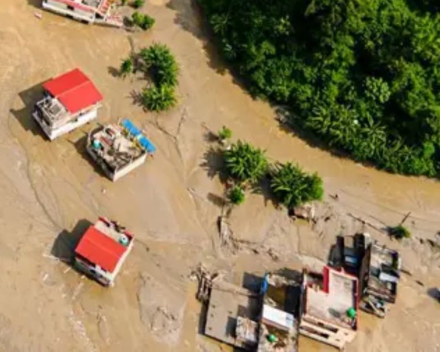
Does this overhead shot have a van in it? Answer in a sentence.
No, the photo shows no van.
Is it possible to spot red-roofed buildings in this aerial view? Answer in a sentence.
Yes, a red-roofed building is visible in the scene.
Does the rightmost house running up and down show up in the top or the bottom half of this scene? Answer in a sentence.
The rightmost house running up and down sits in the bottom half of the picture.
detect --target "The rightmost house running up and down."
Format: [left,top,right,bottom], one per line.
[361,241,400,323]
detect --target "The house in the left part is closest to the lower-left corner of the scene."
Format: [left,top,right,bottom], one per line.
[75,217,133,287]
